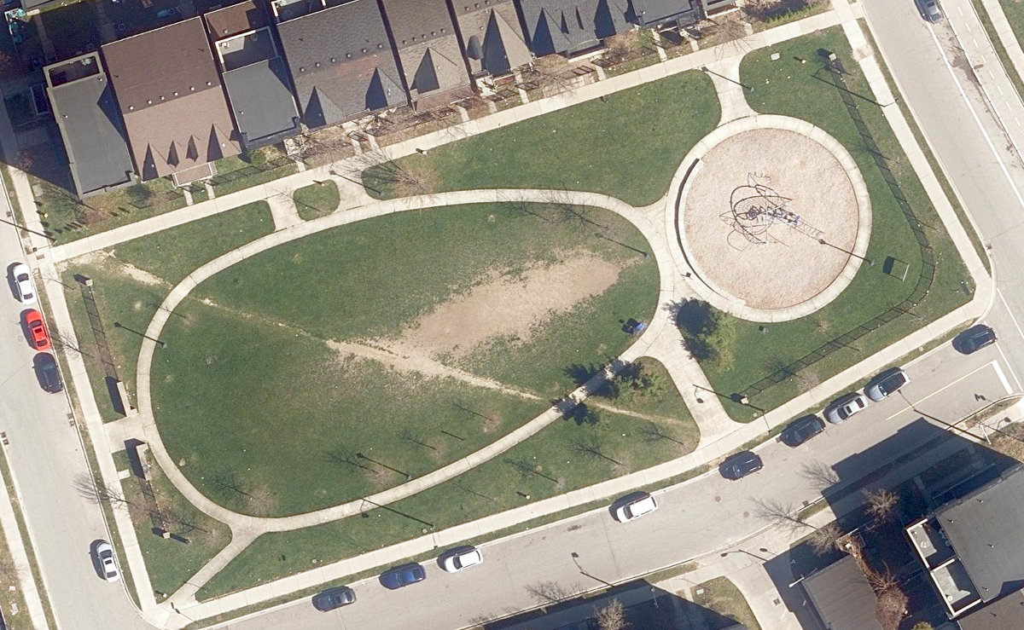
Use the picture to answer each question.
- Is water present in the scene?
No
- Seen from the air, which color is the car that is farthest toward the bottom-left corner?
white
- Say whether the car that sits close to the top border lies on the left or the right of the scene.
right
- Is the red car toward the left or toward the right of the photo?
left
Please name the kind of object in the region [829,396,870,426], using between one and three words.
car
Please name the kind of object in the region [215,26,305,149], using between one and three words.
house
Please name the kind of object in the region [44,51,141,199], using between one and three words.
house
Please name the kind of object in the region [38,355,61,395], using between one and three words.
car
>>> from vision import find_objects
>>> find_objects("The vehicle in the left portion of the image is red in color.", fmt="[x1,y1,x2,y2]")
[27,309,50,351]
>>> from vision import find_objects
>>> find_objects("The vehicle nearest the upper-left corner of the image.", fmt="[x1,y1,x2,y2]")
[13,263,37,305]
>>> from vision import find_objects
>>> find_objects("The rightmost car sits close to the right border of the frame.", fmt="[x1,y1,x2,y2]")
[955,325,997,355]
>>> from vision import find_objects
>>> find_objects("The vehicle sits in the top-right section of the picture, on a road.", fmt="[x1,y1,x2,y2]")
[916,0,942,23]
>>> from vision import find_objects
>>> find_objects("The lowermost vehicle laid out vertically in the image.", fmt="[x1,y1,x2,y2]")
[97,541,119,583]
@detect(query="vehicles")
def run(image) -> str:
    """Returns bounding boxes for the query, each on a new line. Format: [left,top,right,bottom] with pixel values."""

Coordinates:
[615,496,660,523]
[316,589,358,613]
[444,549,484,572]
[27,309,50,351]
[385,566,426,590]
[786,417,827,448]
[97,541,119,583]
[13,263,37,305]
[916,0,942,23]
[955,325,997,355]
[829,396,870,426]
[871,370,912,401]
[724,452,765,482]
[38,355,61,395]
